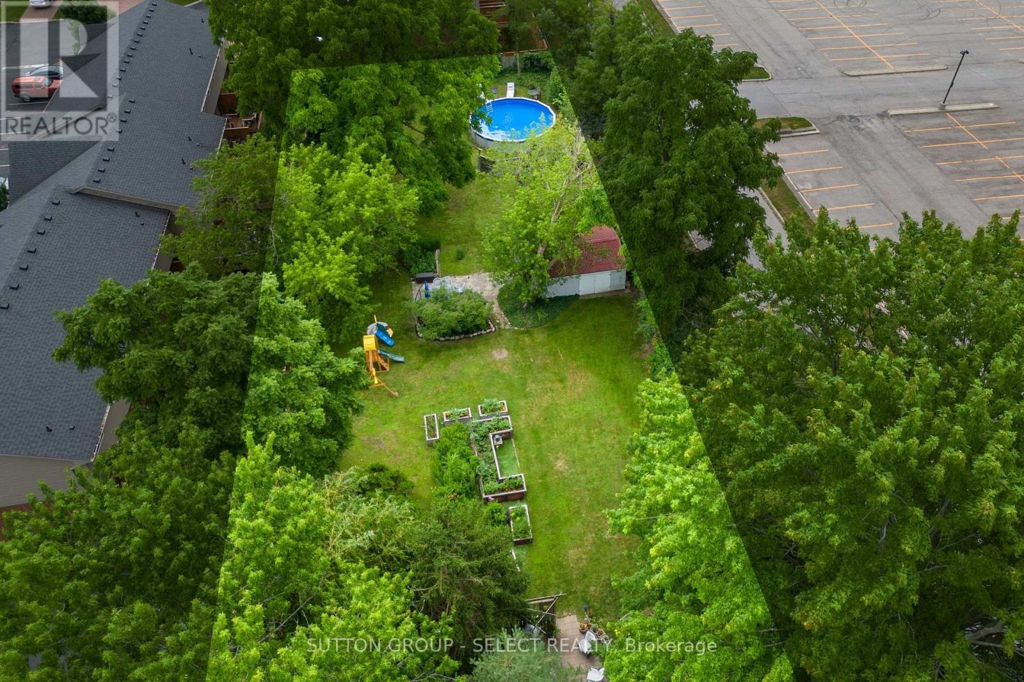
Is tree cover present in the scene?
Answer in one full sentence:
Yes, some tree cover is visible.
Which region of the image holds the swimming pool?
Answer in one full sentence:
The swimming pool sits in the top section of the image.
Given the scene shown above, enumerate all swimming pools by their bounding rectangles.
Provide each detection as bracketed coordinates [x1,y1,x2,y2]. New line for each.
[467,99,559,157]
